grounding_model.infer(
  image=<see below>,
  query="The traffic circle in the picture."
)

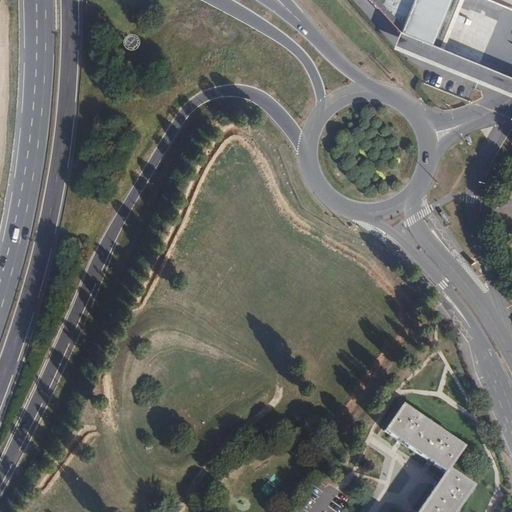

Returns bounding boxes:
[298,82,441,240]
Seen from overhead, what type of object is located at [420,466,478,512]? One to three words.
building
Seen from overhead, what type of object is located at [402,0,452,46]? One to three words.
building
